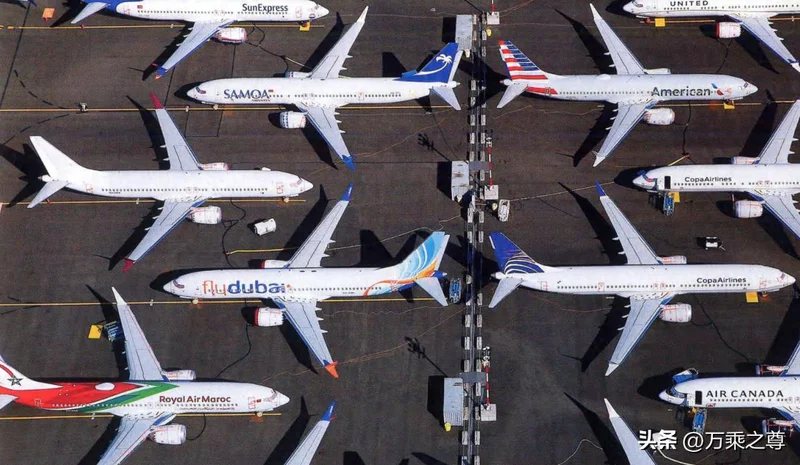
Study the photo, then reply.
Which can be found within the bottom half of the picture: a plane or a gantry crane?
plane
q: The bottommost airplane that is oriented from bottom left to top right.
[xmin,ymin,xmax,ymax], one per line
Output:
[290,400,337,465]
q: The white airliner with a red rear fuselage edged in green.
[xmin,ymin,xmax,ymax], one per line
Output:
[0,288,289,465]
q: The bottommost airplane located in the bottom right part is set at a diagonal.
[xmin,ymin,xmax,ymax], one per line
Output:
[602,399,651,465]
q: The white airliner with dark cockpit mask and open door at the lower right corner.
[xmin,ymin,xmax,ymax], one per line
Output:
[659,347,800,438]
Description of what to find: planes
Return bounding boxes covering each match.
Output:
[163,182,451,378]
[659,347,800,438]
[186,7,465,170]
[290,400,337,465]
[485,181,796,377]
[633,98,800,238]
[495,4,758,167]
[71,0,329,80]
[28,92,312,271]
[0,288,289,465]
[625,0,800,67]
[602,399,651,465]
